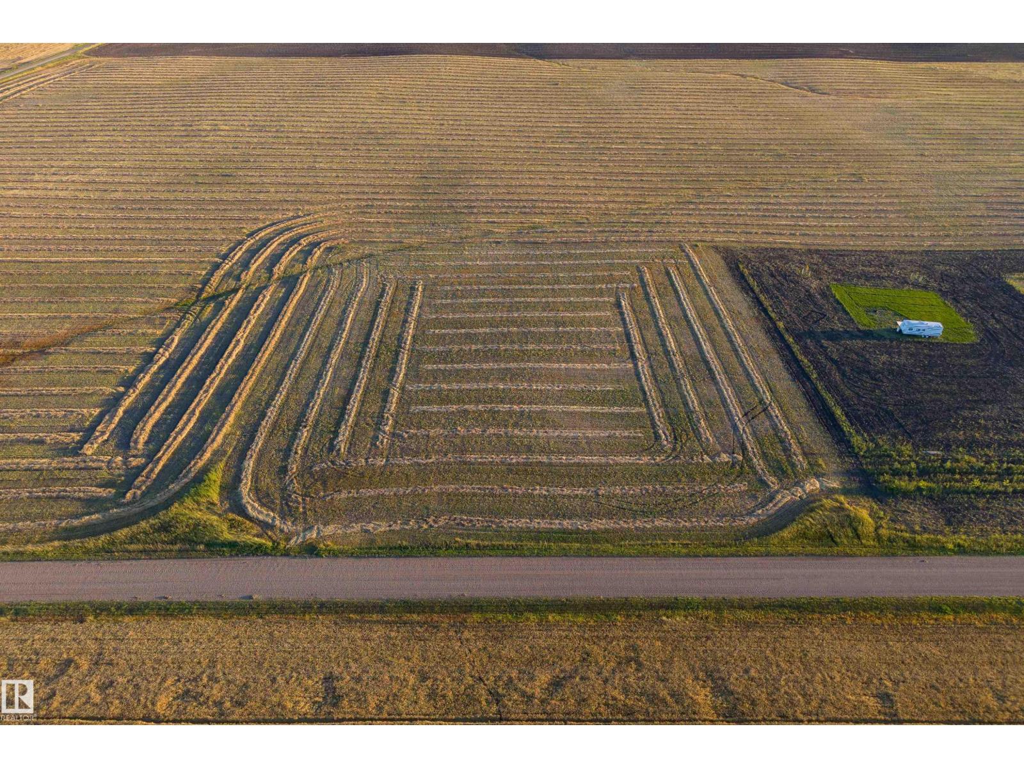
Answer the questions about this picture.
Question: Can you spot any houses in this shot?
No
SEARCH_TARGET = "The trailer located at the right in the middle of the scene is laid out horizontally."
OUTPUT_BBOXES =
[898,319,946,337]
